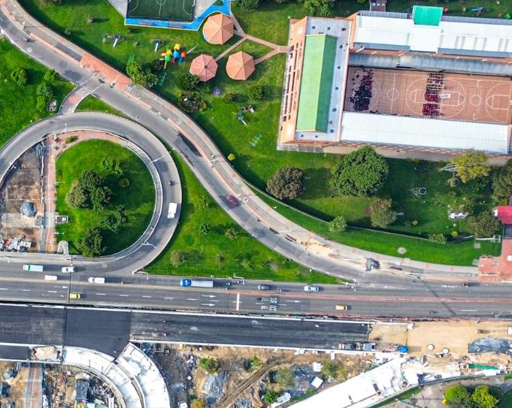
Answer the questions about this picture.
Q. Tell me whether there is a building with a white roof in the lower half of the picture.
No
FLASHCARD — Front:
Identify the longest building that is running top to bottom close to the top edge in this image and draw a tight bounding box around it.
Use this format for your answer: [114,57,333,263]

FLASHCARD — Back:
[281,16,352,147]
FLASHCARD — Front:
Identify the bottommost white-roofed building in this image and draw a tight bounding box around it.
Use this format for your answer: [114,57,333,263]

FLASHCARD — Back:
[330,111,512,162]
